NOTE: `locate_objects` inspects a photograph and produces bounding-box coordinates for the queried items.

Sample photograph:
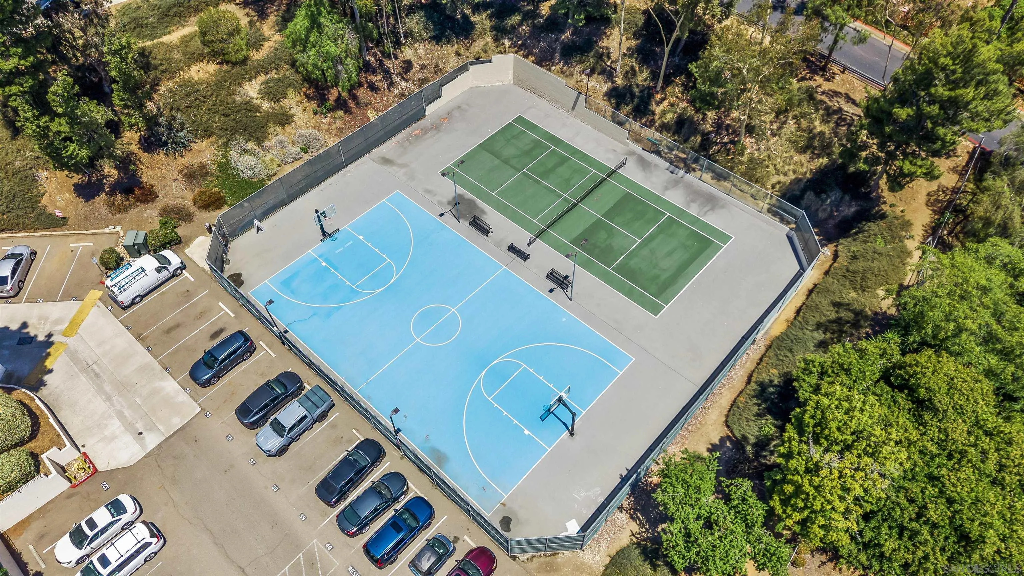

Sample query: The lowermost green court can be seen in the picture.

[438,114,734,318]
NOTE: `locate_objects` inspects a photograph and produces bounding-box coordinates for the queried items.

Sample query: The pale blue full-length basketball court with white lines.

[249,190,636,515]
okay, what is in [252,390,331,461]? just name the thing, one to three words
truck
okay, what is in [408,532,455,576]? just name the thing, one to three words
car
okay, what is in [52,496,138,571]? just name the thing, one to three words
car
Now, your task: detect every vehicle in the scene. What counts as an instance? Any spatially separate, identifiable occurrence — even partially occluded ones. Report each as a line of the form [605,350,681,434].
[189,333,253,388]
[0,248,34,298]
[335,472,409,542]
[252,390,331,461]
[445,546,497,576]
[363,499,434,570]
[103,254,185,312]
[313,440,385,509]
[234,373,304,431]
[408,532,455,576]
[52,496,138,571]
[80,527,160,576]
